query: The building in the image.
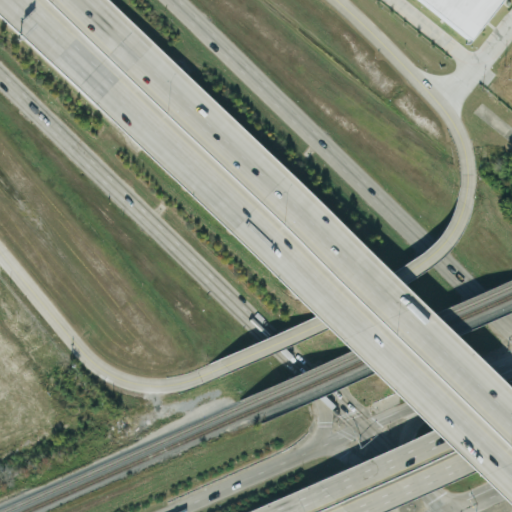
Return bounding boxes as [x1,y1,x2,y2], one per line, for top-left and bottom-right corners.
[416,0,509,47]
